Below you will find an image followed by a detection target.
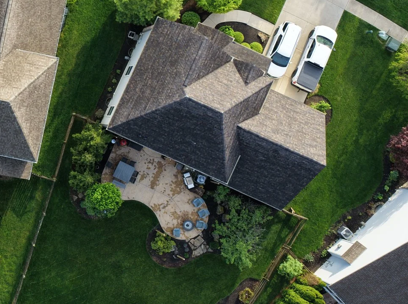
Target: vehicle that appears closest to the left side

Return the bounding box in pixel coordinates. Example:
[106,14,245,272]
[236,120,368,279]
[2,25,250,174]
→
[267,18,306,80]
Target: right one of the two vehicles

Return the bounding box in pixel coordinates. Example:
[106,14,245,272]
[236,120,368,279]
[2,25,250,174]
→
[293,24,336,95]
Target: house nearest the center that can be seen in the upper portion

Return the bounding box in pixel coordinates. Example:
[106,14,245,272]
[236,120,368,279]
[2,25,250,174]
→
[103,17,327,212]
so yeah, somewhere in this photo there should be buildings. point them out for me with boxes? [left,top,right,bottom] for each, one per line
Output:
[0,0,67,181]
[103,17,327,212]
[309,187,408,304]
